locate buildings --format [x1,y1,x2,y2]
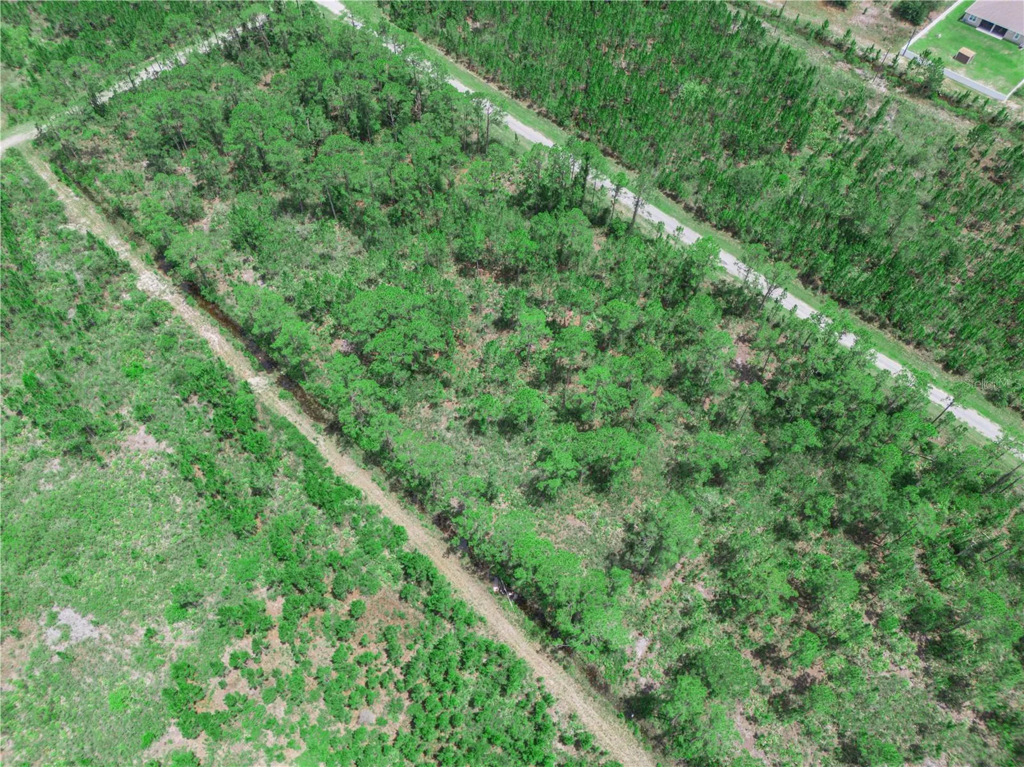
[958,44,978,63]
[963,0,1024,44]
